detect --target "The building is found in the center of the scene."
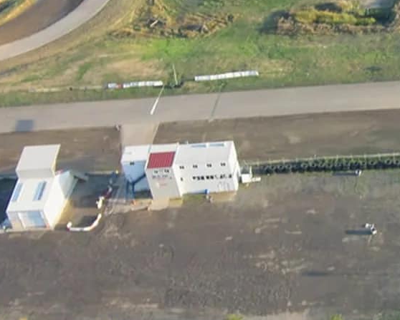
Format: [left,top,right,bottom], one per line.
[120,141,245,203]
